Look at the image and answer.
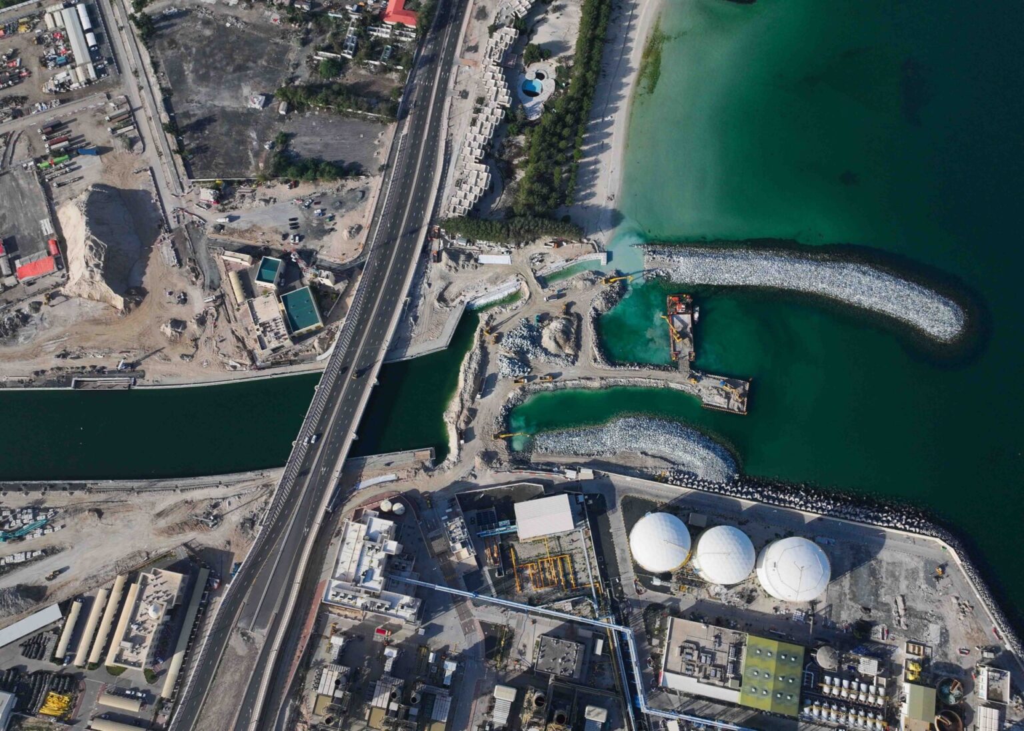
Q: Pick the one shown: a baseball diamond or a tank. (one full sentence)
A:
There is a tank in the scene.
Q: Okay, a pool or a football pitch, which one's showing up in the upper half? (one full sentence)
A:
Visible in the upper half is a pool.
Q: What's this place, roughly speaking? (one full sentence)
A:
The picture captures a port.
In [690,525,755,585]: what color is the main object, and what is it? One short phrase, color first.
white storage tank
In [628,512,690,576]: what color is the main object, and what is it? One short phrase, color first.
white storage tank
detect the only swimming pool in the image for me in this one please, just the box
[514,67,551,120]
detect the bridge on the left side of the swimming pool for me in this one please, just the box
[169,0,473,731]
